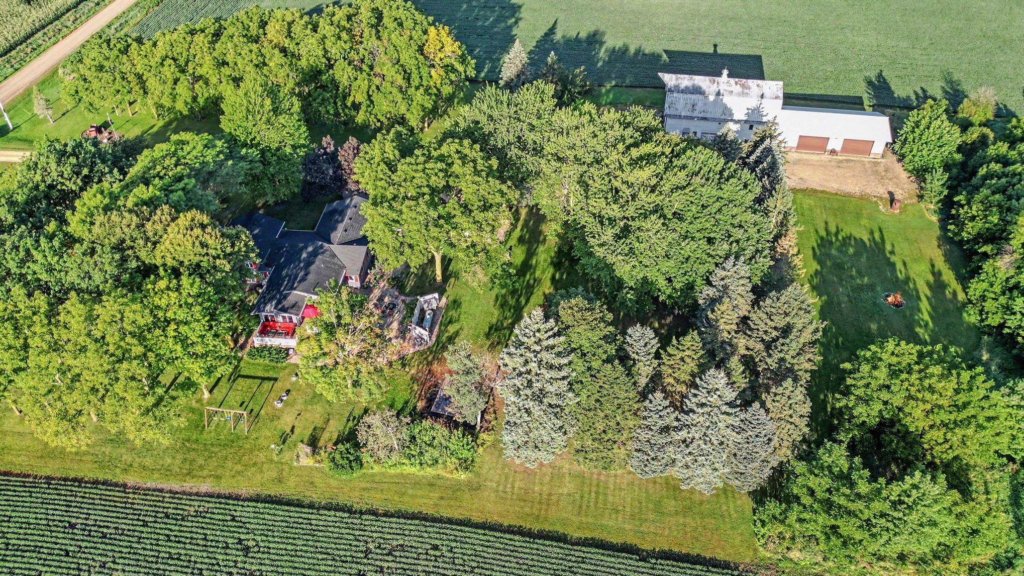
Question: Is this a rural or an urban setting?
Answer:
rural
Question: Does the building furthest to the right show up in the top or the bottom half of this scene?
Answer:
top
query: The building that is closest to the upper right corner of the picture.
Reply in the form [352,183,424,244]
[781,105,893,160]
